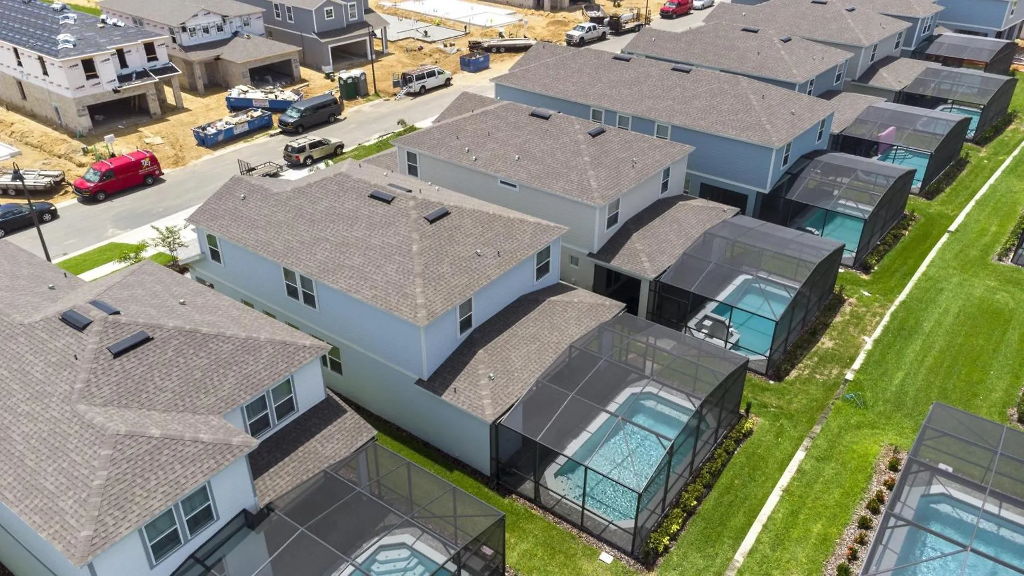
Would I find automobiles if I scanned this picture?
Yes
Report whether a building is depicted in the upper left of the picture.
Yes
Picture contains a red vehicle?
Yes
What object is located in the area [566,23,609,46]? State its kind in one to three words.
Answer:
truck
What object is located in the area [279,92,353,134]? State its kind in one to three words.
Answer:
van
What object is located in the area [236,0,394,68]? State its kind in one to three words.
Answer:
house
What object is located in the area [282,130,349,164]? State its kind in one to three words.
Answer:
car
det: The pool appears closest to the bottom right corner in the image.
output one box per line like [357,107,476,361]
[878,492,1024,576]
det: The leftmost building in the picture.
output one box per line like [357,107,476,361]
[0,0,187,132]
